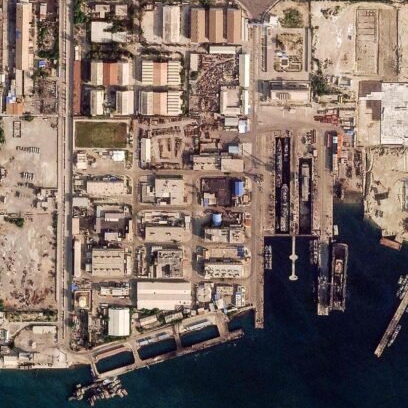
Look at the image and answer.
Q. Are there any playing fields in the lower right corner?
No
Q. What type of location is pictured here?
port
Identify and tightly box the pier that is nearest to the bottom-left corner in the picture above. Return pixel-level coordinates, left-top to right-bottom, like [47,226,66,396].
[87,321,244,382]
